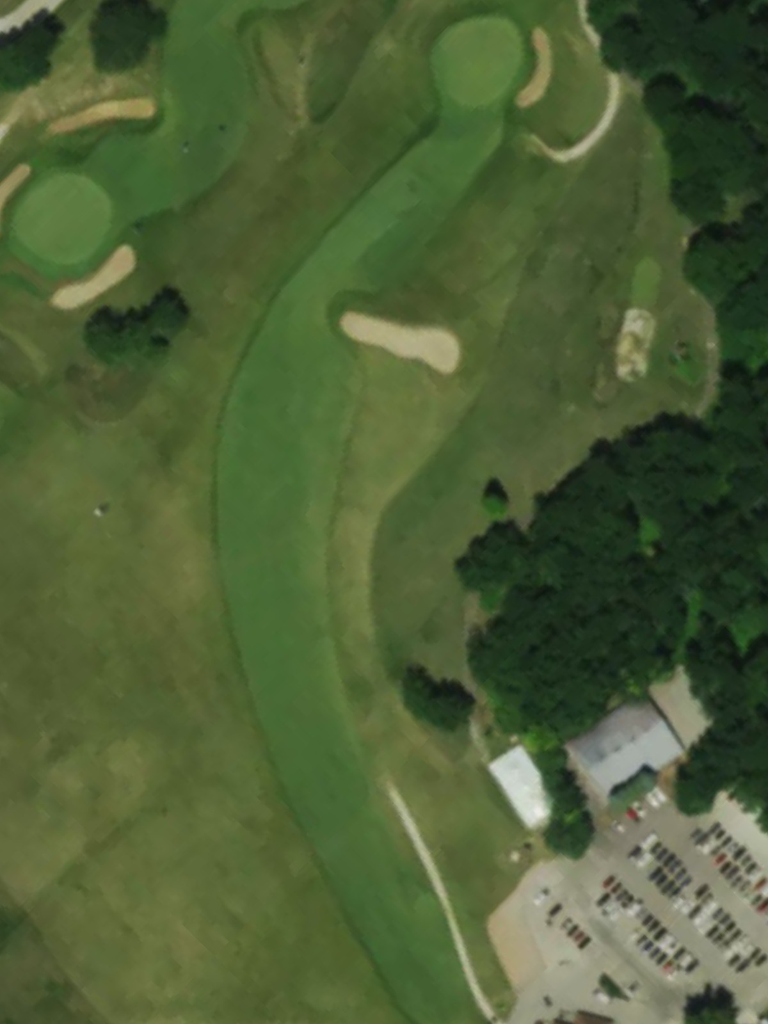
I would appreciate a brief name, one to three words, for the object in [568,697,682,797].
building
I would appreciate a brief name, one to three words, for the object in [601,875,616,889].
car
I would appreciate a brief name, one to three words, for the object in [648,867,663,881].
car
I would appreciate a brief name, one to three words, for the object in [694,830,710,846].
vehicle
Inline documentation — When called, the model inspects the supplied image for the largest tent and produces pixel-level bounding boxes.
[489,745,557,830]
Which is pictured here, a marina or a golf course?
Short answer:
golf course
